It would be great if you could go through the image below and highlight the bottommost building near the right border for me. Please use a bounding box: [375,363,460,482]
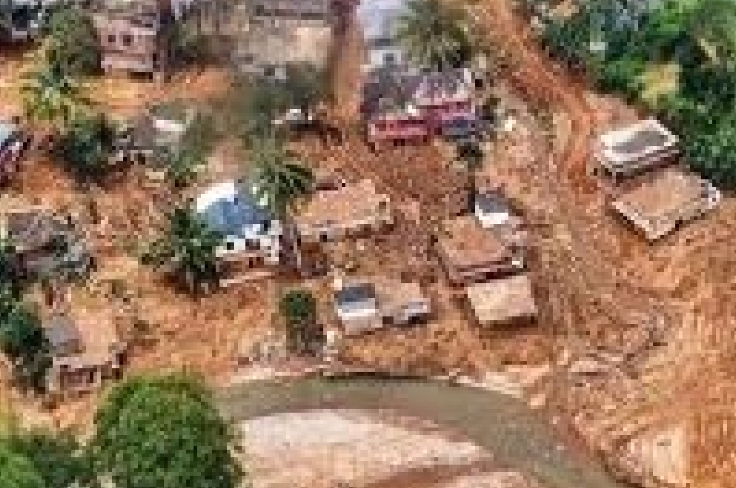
[612,158,721,248]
